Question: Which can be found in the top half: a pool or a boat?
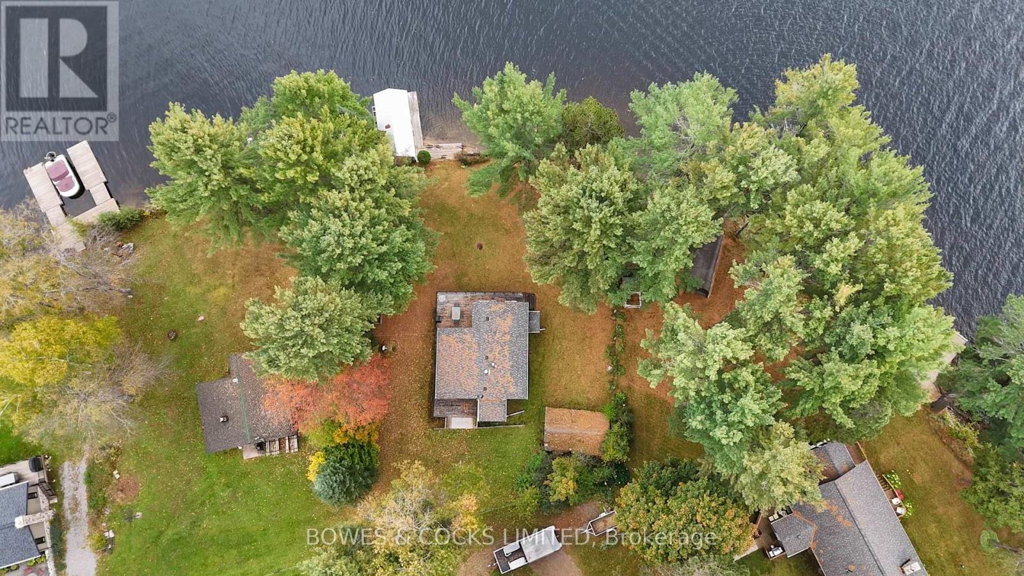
boat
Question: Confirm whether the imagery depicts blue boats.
No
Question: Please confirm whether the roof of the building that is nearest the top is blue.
No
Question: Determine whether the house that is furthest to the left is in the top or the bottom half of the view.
bottom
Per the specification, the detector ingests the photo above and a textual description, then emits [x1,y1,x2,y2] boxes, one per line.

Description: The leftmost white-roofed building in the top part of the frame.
[373,88,424,159]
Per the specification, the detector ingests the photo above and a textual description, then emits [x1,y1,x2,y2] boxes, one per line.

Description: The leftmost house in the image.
[0,455,58,568]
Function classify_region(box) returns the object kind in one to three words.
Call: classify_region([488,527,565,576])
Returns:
trailer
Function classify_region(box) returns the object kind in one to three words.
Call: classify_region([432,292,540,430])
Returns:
house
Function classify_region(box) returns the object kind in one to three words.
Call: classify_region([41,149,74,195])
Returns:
boat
